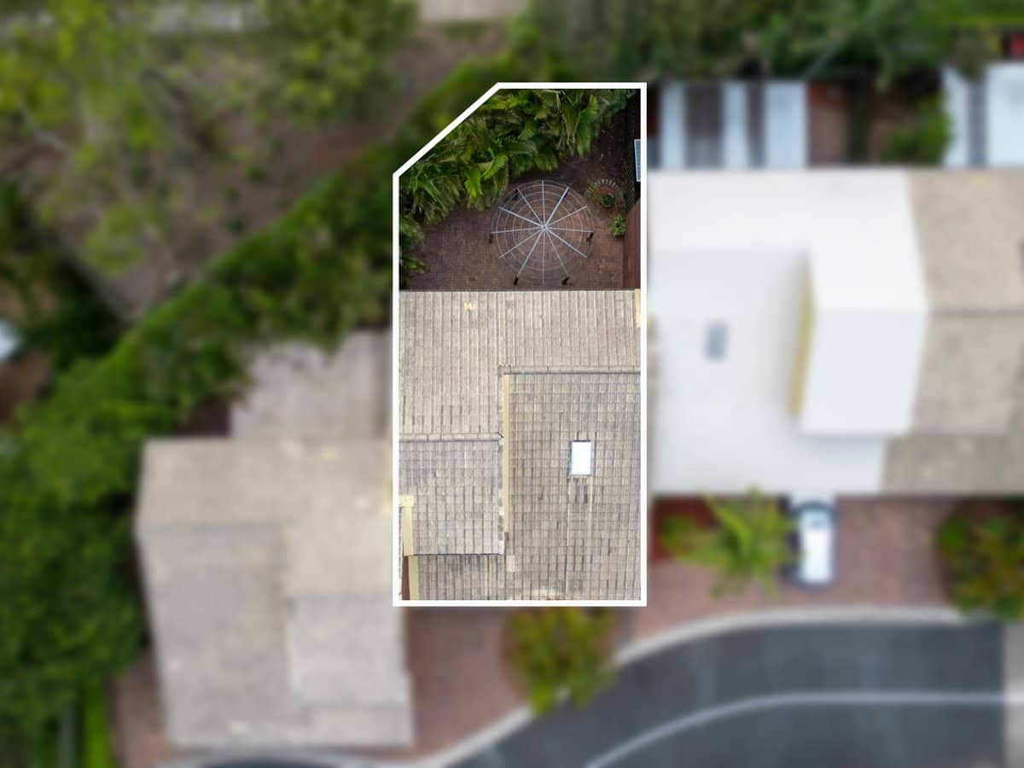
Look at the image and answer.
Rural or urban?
urban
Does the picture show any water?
No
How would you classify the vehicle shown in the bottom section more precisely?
automobile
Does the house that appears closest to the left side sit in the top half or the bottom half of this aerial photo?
bottom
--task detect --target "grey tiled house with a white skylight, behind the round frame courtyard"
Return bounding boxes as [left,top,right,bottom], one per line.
[387,287,660,606]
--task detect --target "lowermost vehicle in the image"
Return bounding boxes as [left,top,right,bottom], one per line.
[780,497,838,589]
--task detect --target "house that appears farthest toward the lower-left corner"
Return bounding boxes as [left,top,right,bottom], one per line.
[129,436,420,744]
